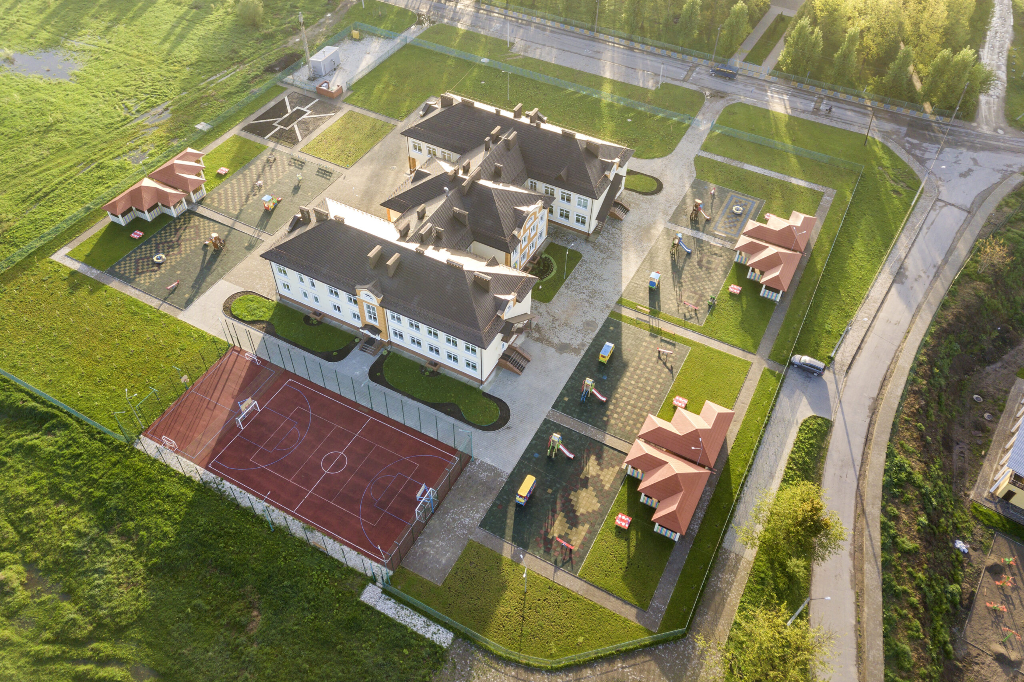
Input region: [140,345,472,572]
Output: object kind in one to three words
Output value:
sports court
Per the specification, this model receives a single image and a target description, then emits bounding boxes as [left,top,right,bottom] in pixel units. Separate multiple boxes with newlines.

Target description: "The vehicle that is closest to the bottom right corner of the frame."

[790,352,829,376]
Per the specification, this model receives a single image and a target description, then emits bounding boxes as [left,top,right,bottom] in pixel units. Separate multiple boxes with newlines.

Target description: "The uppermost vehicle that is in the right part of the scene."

[707,62,739,80]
